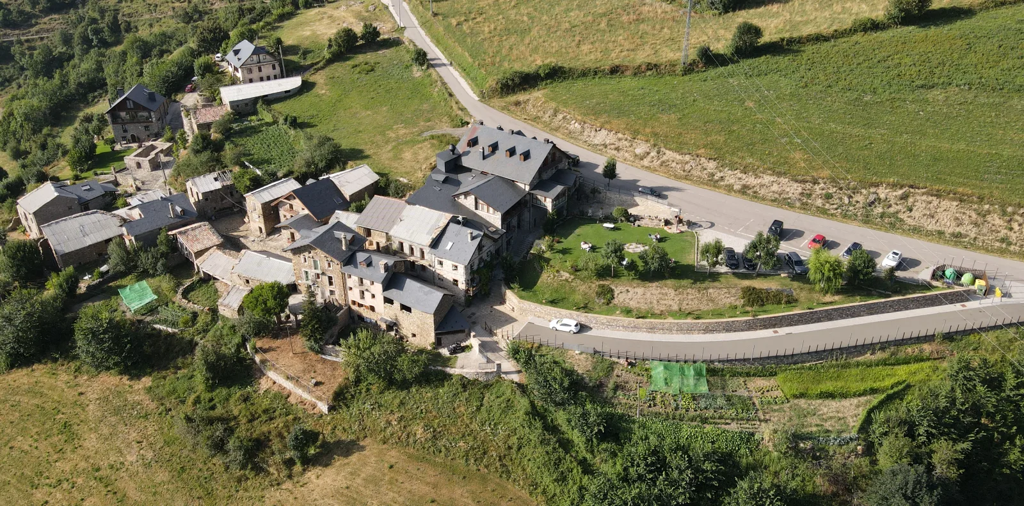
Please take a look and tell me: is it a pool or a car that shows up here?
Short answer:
car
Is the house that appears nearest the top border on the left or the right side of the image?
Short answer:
left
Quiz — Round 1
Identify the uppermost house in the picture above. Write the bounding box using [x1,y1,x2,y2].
[226,39,276,82]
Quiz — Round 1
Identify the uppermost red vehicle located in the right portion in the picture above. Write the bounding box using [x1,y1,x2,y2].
[807,231,828,248]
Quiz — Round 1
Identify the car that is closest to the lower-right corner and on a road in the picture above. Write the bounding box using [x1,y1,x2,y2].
[881,250,904,267]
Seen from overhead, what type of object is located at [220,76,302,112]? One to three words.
shed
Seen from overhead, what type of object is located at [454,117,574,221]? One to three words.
building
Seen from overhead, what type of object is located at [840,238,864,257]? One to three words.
car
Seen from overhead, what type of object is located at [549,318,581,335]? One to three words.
car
